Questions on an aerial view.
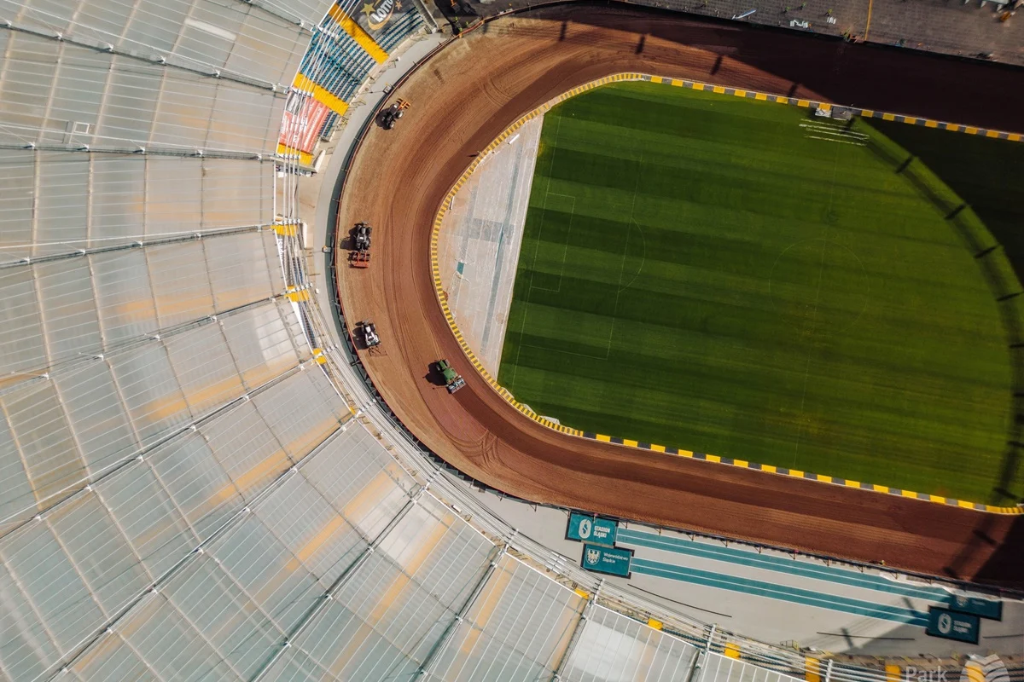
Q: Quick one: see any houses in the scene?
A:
No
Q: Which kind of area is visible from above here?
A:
sports ground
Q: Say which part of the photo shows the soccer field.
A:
right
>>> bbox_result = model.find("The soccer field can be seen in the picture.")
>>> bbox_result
[495,80,1024,509]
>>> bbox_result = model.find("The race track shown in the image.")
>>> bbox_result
[335,1,1024,594]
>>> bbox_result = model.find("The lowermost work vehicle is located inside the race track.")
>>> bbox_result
[433,354,465,394]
